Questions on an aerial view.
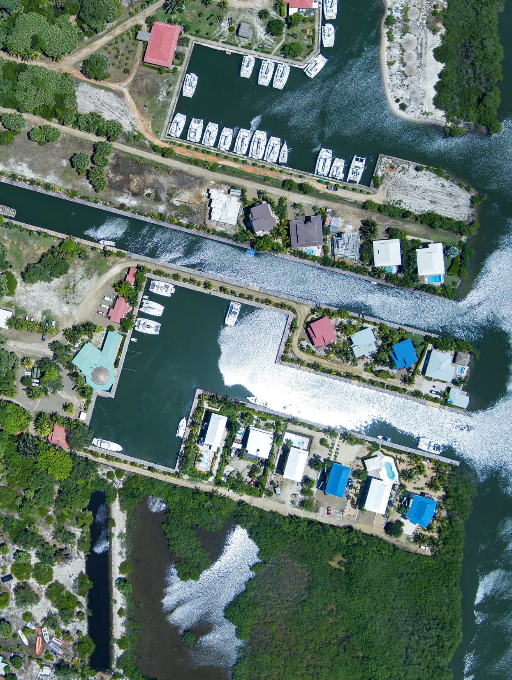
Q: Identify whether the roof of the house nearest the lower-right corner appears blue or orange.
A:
blue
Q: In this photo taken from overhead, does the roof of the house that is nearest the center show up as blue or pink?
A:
pink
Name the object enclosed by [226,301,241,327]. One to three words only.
boat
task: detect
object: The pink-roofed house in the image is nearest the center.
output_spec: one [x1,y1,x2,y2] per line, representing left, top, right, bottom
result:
[304,317,336,349]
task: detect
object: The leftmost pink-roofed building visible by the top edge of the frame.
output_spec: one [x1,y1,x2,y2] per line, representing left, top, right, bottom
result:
[144,22,181,67]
